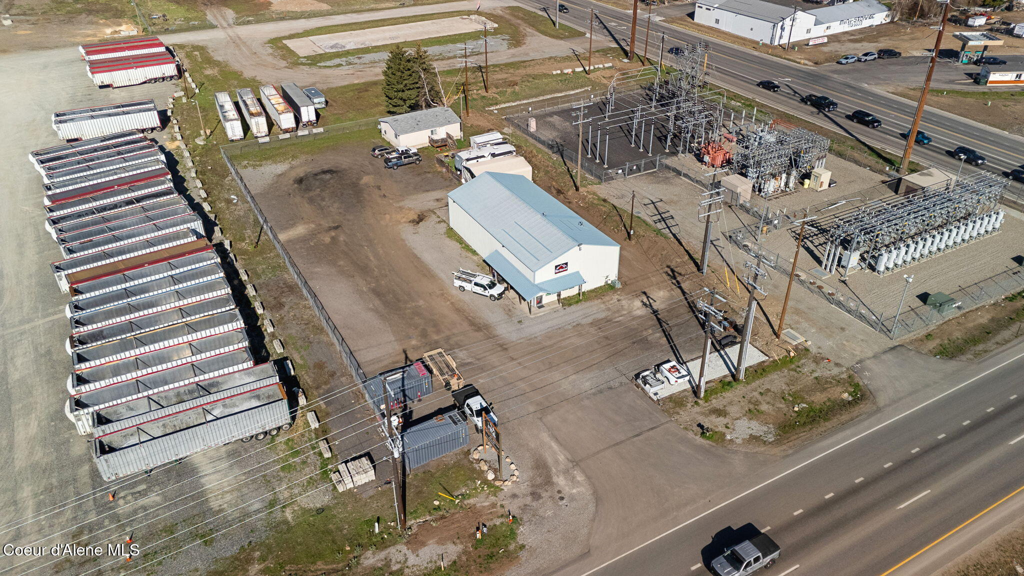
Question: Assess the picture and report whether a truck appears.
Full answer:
Yes, the picture does show a truck.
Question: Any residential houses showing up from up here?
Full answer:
Yes, looking at the shot, I can spot a residential house.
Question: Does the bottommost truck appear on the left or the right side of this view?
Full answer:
The bottommost truck sits on the right side.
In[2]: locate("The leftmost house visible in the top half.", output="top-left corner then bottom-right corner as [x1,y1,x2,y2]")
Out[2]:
[377,107,461,148]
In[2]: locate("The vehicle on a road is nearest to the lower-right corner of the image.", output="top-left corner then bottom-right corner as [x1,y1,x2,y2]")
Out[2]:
[709,532,792,576]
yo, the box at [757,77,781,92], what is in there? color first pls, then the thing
black car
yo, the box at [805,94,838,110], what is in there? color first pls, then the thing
black vehicle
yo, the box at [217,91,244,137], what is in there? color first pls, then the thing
white trailer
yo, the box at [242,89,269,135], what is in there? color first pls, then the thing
white trailer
